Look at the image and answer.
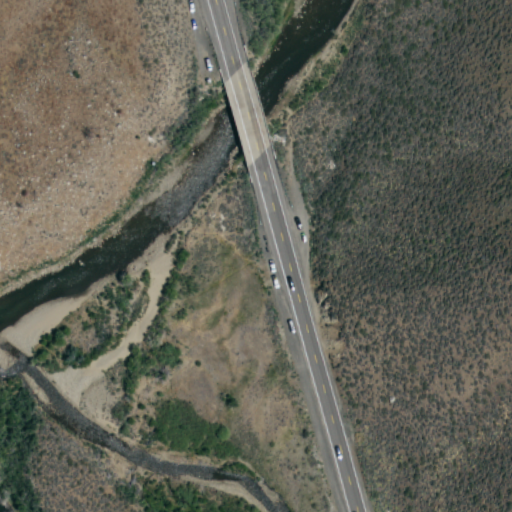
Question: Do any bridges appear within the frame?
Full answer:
Yes, looking at the shot, I can spot a bridge.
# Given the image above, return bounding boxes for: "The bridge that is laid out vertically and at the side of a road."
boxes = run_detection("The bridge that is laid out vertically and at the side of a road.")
[223,56,272,170]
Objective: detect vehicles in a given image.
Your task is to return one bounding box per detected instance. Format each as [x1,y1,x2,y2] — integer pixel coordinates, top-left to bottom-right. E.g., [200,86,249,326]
[288,278,296,291]
[190,0,196,14]
[294,216,302,230]
[270,259,278,274]
[206,58,214,72]
[335,447,342,460]
[192,18,198,30]
[274,275,282,290]
[289,320,296,334]
[301,232,308,245]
